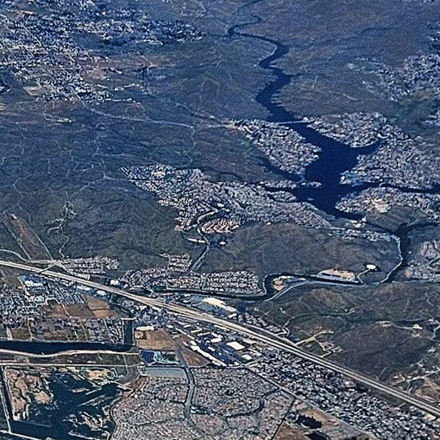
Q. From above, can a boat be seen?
No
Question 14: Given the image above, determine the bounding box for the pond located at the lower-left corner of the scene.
[14,374,135,437]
